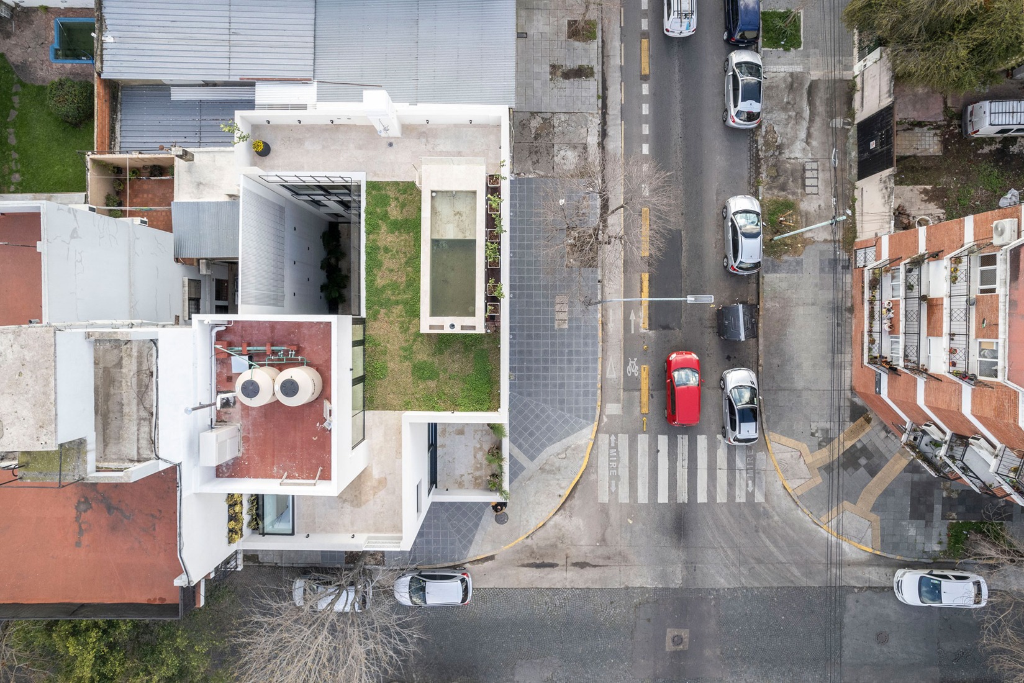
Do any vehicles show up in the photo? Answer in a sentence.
Yes, I can see a vehicle in this picture.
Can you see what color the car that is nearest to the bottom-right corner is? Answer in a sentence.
From above, the car that is nearest to the bottom-right corner appears white.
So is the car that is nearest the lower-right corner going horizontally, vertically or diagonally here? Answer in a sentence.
I'd say the car that is nearest the lower-right corner is aligned horizontally in the picture.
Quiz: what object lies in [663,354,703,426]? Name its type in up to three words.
car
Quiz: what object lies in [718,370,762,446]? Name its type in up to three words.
car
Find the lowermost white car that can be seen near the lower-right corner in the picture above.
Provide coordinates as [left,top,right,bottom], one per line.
[893,565,986,612]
